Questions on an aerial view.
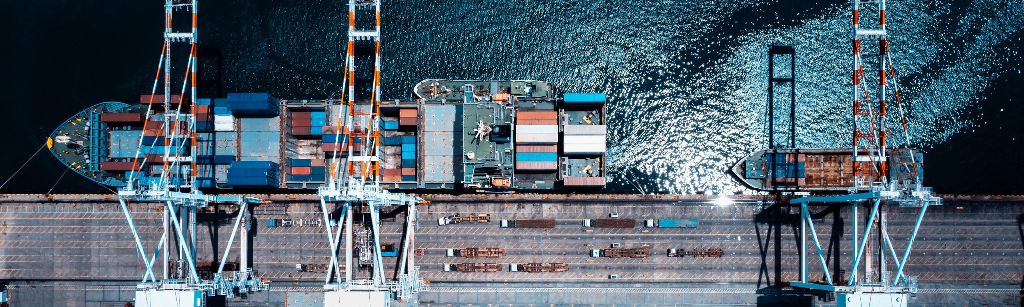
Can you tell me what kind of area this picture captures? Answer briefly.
port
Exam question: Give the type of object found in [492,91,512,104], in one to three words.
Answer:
boat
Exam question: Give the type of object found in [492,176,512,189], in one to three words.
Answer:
boat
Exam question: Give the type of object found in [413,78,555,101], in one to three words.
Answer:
ship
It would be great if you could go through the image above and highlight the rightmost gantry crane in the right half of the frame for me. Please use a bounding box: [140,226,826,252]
[778,0,939,307]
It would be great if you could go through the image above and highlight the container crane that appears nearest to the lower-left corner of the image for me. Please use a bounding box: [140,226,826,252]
[113,0,276,307]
